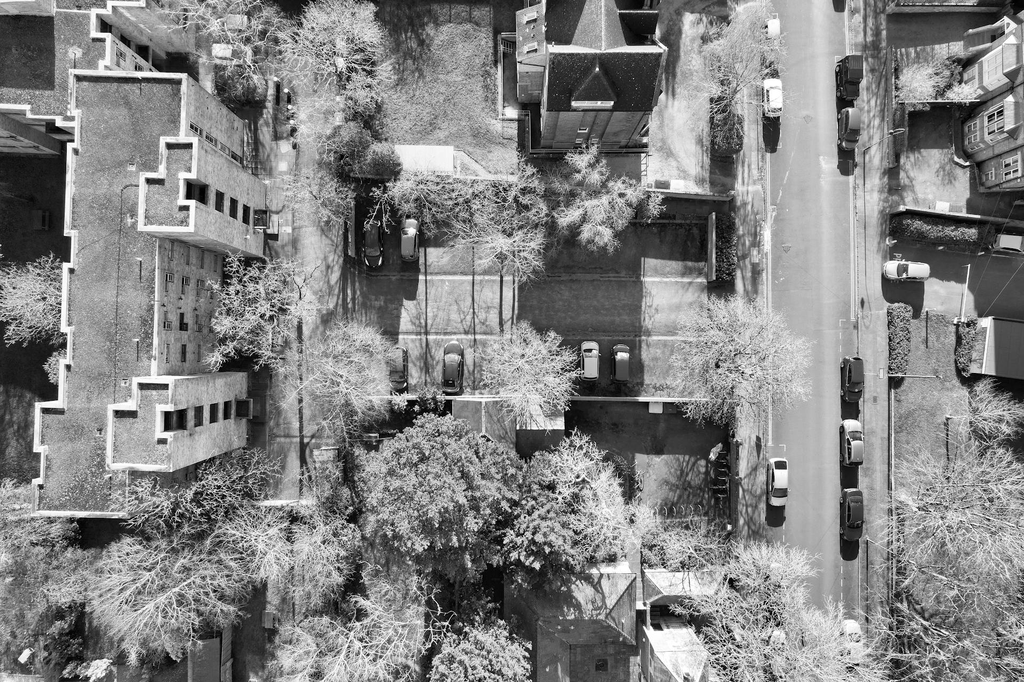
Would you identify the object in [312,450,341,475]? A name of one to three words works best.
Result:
shed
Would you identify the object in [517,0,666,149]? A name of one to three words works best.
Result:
house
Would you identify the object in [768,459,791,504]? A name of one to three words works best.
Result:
car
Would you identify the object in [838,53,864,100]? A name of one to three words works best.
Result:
truck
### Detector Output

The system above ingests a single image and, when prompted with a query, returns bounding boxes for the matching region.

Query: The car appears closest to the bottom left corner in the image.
[388,347,409,390]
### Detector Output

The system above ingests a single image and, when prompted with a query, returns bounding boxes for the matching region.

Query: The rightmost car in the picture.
[987,231,1024,256]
